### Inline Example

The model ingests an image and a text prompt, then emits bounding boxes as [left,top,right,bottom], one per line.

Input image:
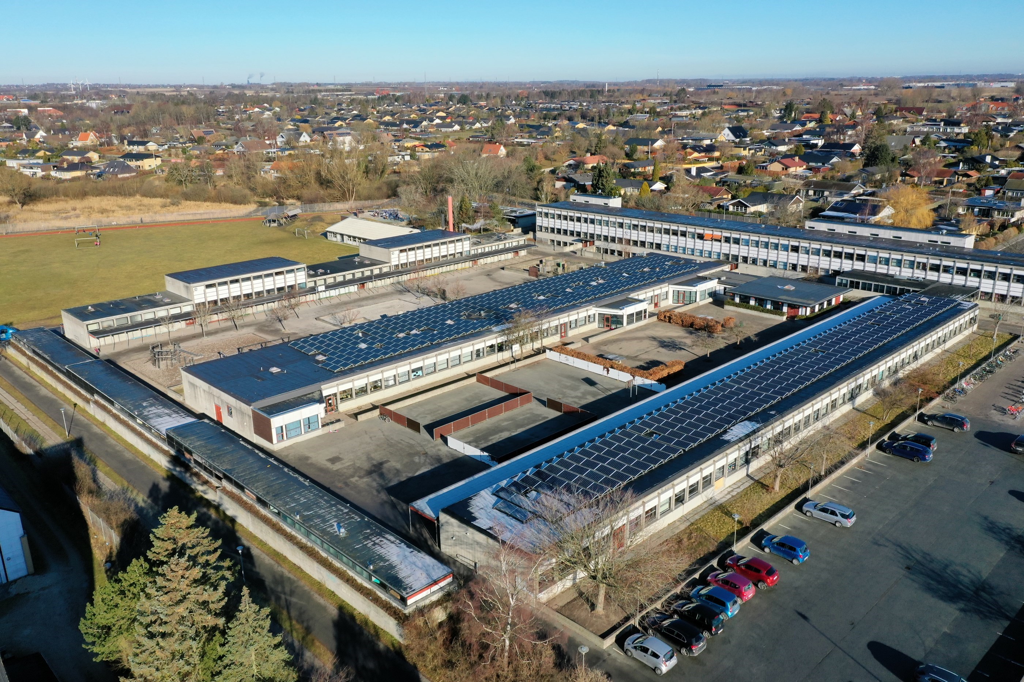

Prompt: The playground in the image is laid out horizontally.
[125,334,282,395]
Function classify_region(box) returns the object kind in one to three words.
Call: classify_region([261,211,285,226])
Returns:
gazebo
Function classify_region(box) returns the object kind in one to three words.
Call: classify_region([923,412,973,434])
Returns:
car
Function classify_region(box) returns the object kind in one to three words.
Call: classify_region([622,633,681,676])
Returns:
car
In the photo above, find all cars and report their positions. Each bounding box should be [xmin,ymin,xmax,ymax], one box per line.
[668,595,732,638]
[892,430,942,454]
[688,581,747,620]
[1005,432,1024,455]
[646,613,707,656]
[762,534,814,566]
[707,568,760,602]
[726,553,784,589]
[923,412,973,434]
[622,633,681,676]
[801,499,860,529]
[882,439,935,464]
